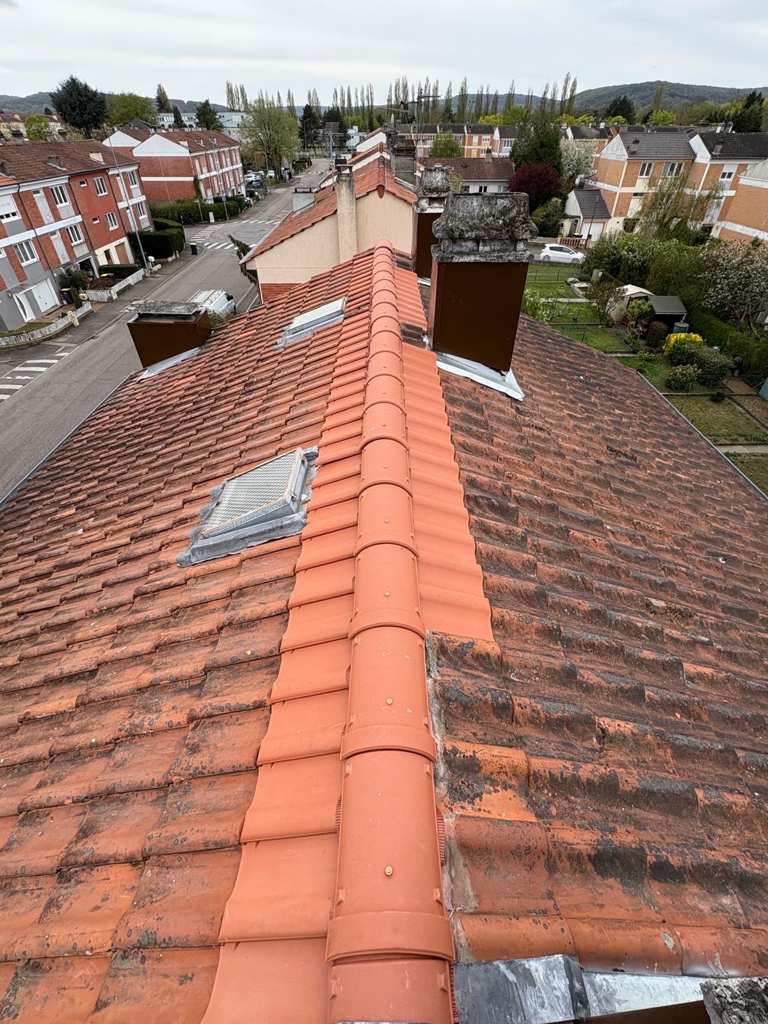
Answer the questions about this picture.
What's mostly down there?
buildings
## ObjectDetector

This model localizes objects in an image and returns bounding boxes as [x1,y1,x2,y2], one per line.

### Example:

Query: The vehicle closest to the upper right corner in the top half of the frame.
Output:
[537,241,581,257]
